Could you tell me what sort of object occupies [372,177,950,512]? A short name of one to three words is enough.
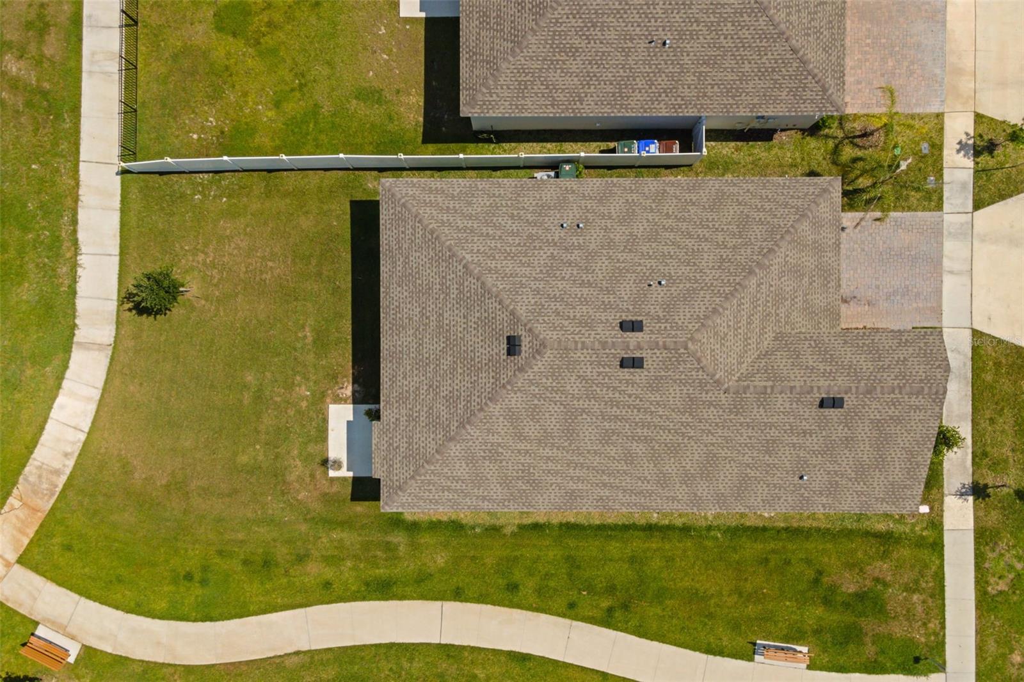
house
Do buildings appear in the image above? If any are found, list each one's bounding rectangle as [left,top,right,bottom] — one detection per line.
[460,0,845,136]
[372,177,950,512]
